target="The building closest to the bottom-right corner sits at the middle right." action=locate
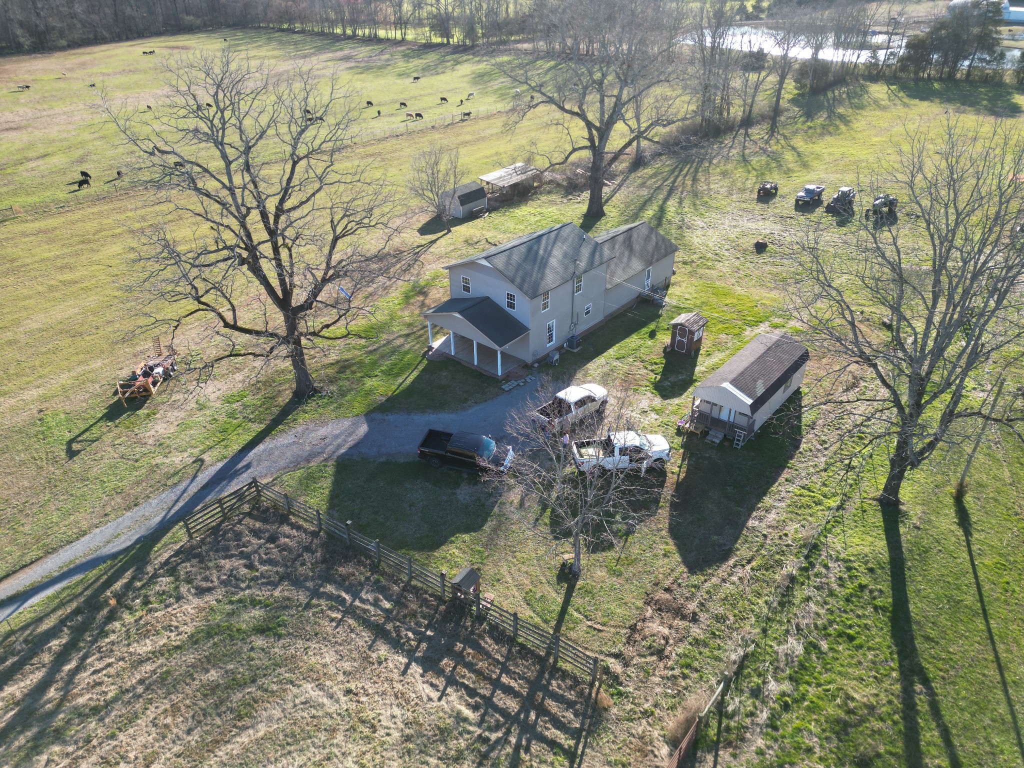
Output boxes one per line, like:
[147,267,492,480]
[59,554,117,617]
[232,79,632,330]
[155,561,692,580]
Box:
[688,333,810,446]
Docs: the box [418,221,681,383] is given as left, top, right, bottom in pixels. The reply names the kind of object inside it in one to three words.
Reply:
house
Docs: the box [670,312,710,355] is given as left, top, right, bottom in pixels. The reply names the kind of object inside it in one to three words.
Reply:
shed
